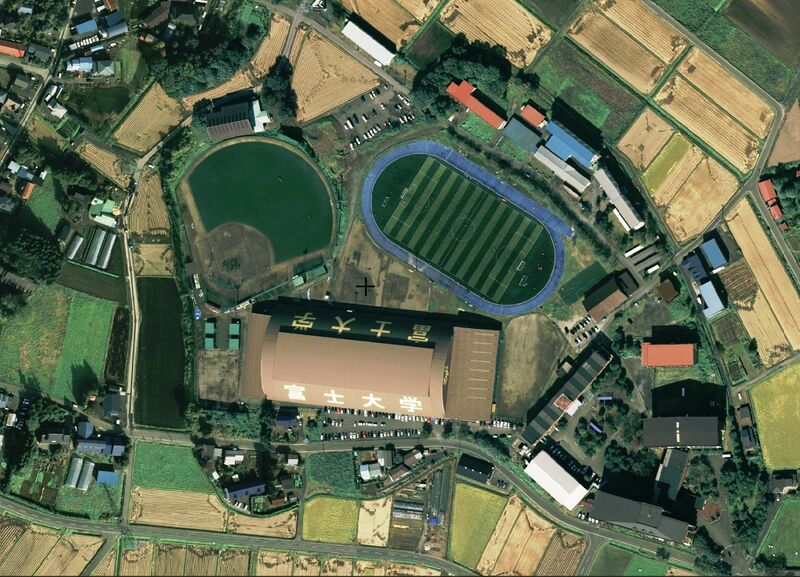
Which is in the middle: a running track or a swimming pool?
running track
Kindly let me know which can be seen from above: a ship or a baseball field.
baseball field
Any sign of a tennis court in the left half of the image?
No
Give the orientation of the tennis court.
diagonally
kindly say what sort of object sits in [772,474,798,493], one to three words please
house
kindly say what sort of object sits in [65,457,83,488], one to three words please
greenhouse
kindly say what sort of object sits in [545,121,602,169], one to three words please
building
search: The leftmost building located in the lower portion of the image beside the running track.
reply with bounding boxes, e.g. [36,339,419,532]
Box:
[241,310,502,421]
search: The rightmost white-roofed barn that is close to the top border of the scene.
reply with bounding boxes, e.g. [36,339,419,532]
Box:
[341,21,398,66]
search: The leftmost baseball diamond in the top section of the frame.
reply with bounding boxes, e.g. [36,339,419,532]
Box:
[177,137,338,305]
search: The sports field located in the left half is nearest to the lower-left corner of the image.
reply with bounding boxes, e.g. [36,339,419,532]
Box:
[200,350,238,400]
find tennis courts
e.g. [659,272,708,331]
[558,261,608,306]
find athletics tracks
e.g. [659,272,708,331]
[360,141,574,316]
